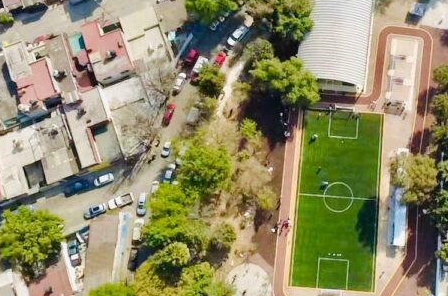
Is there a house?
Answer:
Yes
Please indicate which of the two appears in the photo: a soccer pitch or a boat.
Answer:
soccer pitch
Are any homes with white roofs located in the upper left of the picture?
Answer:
Yes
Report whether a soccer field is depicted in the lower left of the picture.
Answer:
No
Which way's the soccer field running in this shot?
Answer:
vertically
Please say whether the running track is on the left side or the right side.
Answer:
right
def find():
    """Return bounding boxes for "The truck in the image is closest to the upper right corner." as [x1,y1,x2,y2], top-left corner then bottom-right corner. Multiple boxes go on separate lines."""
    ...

[224,25,249,47]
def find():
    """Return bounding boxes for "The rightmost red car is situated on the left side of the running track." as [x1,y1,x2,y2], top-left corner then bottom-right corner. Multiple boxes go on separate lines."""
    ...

[212,50,227,69]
